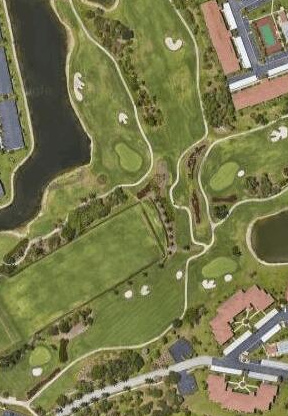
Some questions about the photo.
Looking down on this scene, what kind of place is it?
golf course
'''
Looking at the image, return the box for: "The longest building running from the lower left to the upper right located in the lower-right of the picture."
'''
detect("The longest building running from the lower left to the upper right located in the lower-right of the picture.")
[211,285,273,344]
